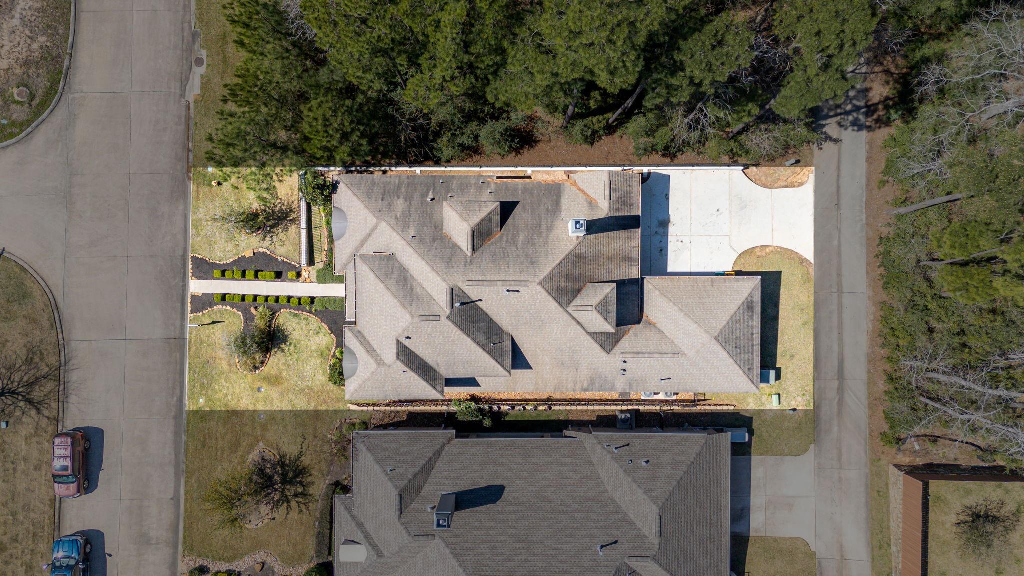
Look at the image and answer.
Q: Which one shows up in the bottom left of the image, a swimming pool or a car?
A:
car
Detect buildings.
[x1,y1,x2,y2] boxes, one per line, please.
[328,170,763,403]
[331,426,733,576]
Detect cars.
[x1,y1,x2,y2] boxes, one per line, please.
[53,533,95,576]
[51,427,93,498]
